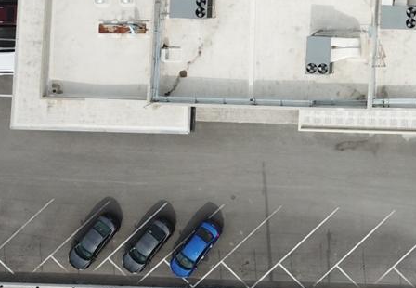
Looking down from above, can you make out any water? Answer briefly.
No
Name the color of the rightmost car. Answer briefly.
blue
